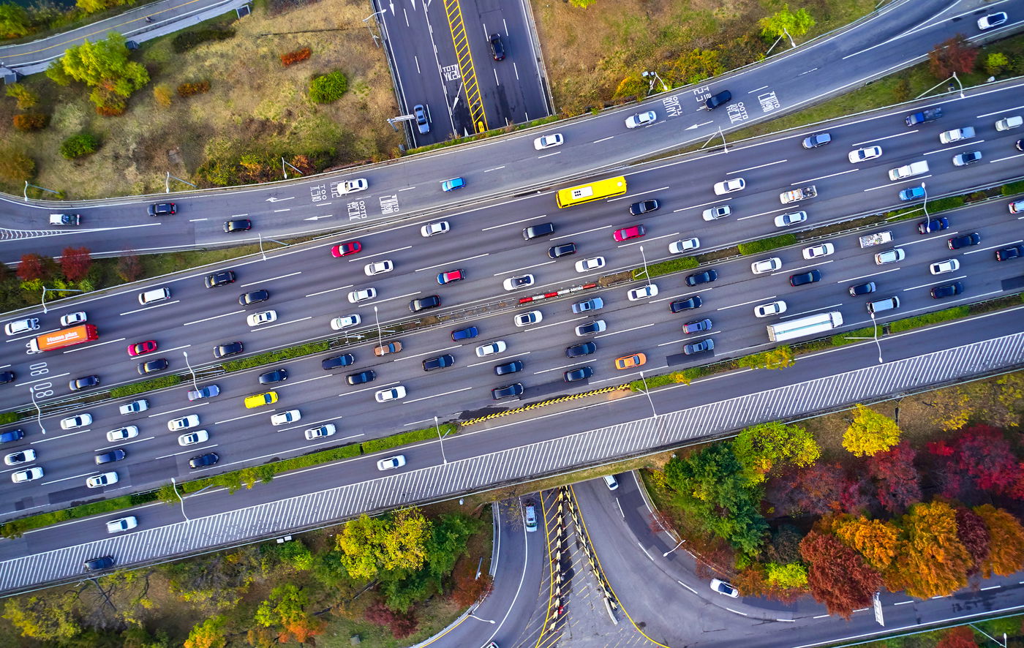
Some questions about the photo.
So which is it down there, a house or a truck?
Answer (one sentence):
The one in the frame is a truck.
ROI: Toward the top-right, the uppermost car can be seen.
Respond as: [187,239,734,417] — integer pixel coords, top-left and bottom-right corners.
[977,11,1008,30]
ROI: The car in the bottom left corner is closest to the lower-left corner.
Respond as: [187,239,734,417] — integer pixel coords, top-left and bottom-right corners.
[84,554,115,572]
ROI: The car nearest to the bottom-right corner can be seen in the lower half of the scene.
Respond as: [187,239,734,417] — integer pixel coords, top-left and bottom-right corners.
[710,578,739,597]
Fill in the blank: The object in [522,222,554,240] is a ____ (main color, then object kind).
black vehicle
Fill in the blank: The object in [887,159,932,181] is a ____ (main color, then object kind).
white truck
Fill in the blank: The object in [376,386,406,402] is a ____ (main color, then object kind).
white car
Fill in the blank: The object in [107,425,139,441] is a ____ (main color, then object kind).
white car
